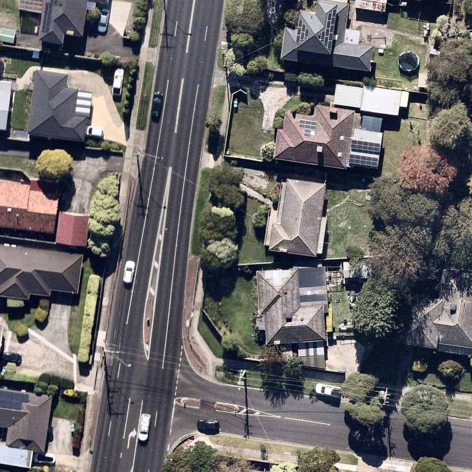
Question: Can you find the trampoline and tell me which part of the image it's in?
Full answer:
You can find the trampoline in the top right area of the picture.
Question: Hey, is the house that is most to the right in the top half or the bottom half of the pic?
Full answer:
The house that is most to the right is in the bottom half of the image.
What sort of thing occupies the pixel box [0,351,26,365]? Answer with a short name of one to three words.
car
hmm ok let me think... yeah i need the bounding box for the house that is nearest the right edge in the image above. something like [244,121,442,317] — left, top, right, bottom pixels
[408,270,472,355]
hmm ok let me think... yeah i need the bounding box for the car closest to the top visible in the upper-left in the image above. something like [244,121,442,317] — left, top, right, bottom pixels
[96,7,111,35]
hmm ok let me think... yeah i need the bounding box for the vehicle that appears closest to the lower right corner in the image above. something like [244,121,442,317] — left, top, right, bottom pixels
[313,383,344,398]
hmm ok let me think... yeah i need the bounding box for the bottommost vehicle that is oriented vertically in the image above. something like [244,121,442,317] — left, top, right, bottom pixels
[137,413,152,441]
